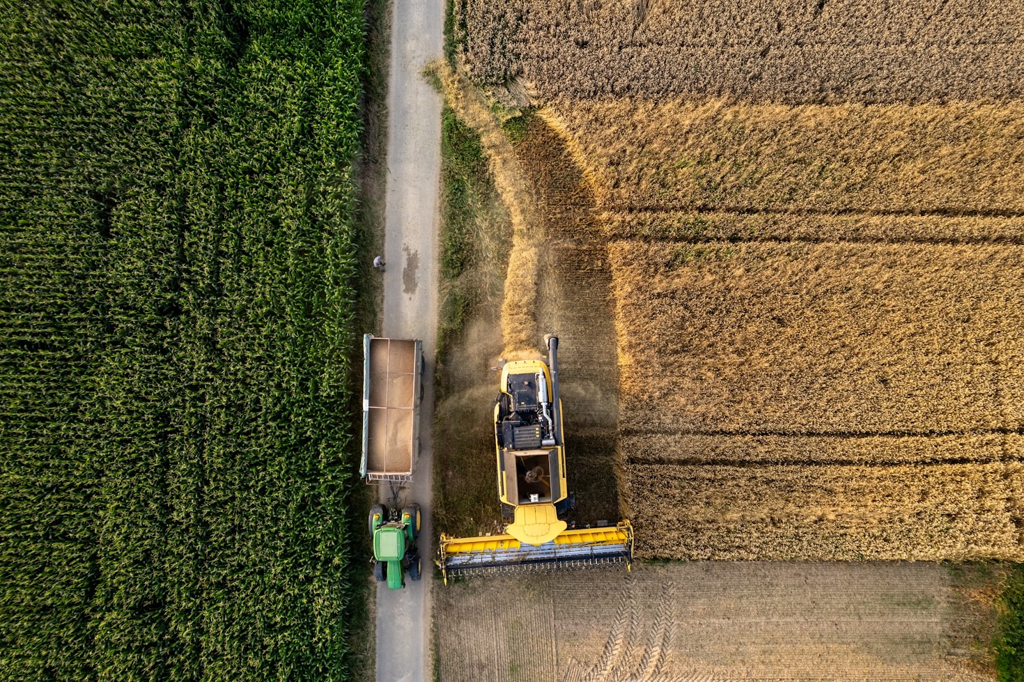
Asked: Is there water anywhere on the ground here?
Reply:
No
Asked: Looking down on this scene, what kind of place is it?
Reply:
farmland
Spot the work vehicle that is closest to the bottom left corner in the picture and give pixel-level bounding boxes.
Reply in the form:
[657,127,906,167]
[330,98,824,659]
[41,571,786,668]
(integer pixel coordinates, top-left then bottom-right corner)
[366,499,422,589]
